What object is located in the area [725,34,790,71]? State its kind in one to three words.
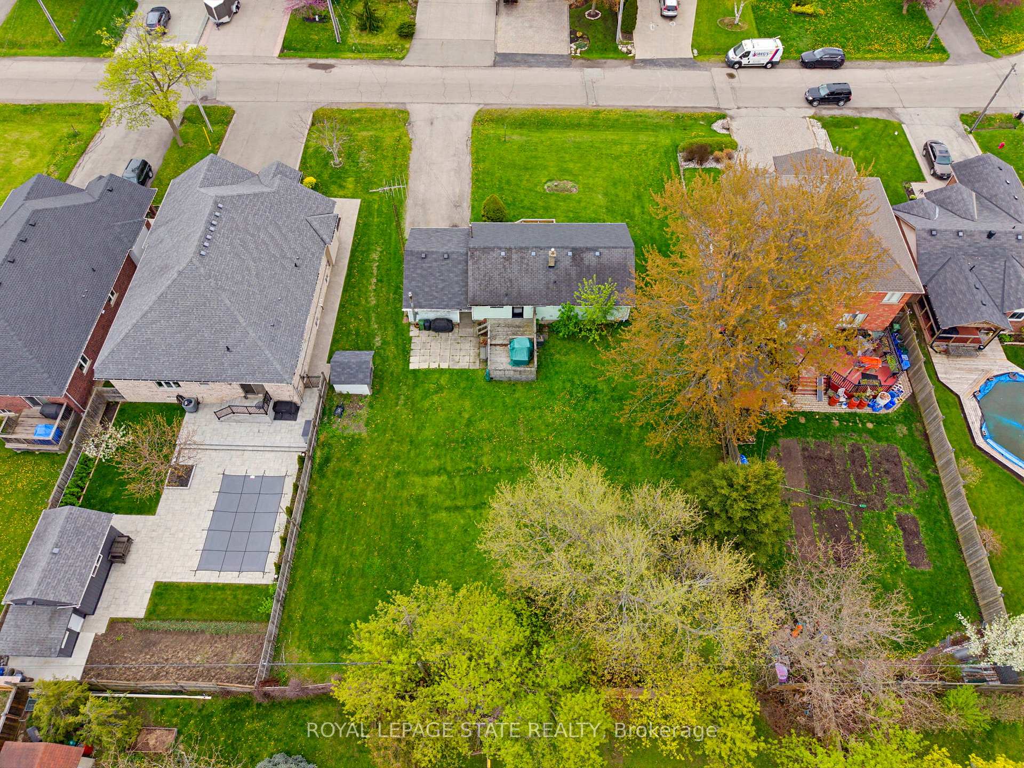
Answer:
van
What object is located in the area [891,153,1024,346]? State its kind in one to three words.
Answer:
house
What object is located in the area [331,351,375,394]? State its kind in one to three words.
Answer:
shed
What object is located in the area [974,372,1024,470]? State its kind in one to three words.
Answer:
swimming pool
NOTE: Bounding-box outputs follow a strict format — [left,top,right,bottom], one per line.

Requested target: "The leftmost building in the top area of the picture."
[0,173,160,411]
